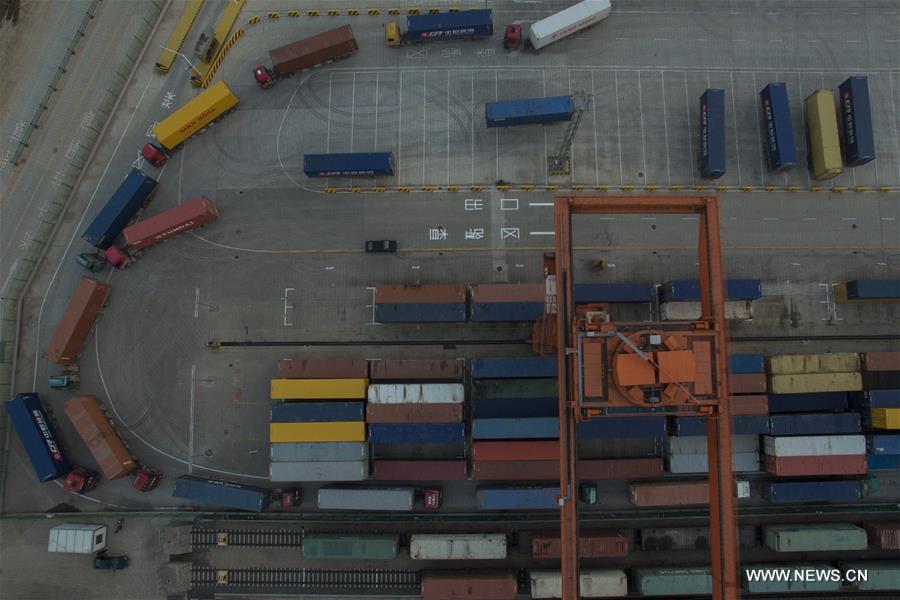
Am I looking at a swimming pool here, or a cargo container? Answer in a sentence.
There is a cargo container in the scene.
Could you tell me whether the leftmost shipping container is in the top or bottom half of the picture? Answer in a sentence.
The leftmost shipping container sits in the bottom half of the picture.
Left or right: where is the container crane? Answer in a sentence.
The container crane appears in the right half of the scene.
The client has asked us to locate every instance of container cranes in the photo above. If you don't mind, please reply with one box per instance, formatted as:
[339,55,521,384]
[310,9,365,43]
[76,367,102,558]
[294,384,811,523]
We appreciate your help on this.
[526,198,746,600]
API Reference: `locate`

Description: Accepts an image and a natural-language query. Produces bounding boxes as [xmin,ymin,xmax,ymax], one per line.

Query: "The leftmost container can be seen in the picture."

[4,392,69,483]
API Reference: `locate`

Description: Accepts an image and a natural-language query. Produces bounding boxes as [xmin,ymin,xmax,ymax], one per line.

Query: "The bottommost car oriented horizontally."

[92,553,129,571]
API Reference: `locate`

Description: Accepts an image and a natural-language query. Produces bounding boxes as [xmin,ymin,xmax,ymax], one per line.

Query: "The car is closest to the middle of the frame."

[365,238,397,253]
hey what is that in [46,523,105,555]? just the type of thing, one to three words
building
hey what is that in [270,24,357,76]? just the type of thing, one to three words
shipping container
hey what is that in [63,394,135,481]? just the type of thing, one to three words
shipping container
